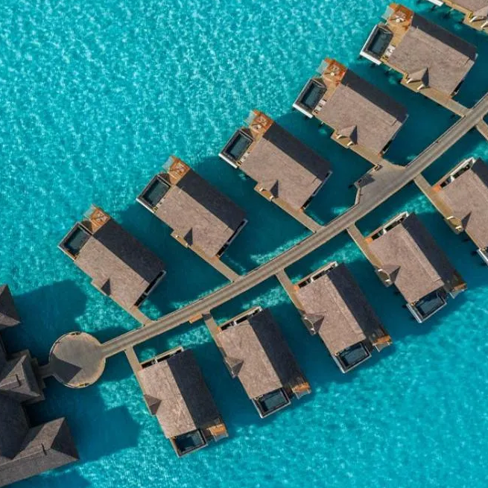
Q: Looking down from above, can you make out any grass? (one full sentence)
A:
No, no grass is visible.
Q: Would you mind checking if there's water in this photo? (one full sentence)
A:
Yes, water can be seen from above here.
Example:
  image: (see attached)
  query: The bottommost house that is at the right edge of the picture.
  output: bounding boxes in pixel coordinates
[363,208,465,304]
